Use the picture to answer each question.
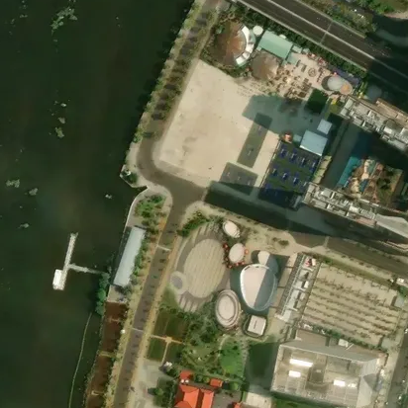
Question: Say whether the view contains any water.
Yes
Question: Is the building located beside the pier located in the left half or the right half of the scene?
left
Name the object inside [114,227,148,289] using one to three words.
building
